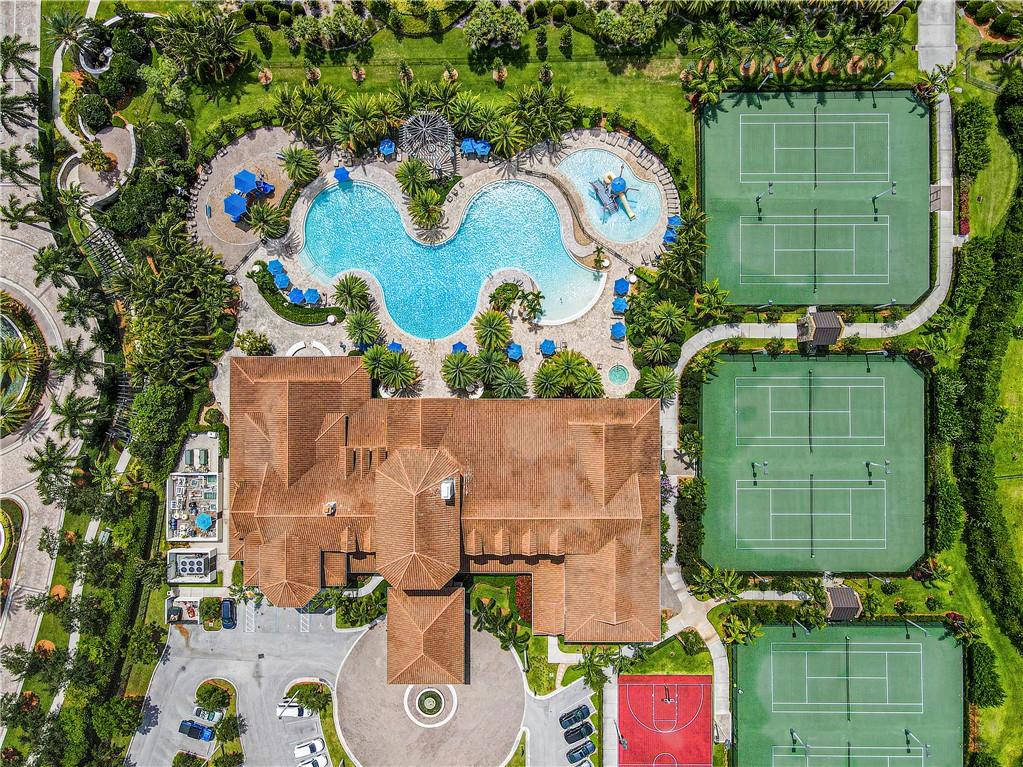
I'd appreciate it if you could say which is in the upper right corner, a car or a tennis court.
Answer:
tennis court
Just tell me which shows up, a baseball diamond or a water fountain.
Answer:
water fountain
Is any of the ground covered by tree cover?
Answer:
Yes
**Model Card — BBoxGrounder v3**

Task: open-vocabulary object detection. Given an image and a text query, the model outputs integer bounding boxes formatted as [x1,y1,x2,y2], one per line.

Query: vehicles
[571,758,598,767]
[557,704,590,728]
[562,721,594,744]
[293,737,326,759]
[177,719,215,740]
[297,752,330,767]
[194,705,224,723]
[564,740,596,763]
[220,596,237,628]
[277,700,311,717]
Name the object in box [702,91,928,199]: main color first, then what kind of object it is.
green tennis court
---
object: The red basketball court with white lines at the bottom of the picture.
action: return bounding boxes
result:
[618,674,710,767]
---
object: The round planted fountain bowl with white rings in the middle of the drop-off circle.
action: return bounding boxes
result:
[417,689,444,716]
